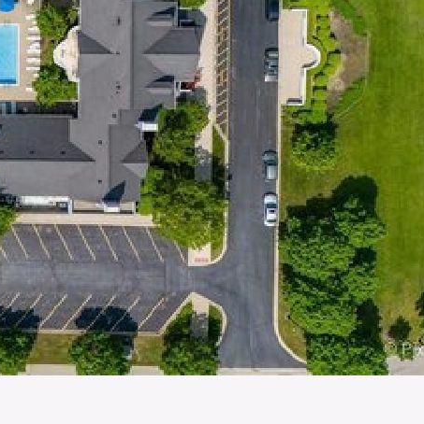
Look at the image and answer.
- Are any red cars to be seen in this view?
No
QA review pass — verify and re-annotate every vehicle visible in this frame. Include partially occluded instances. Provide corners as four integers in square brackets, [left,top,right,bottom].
[261,149,278,180]
[263,0,280,21]
[262,48,278,82]
[262,193,278,227]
